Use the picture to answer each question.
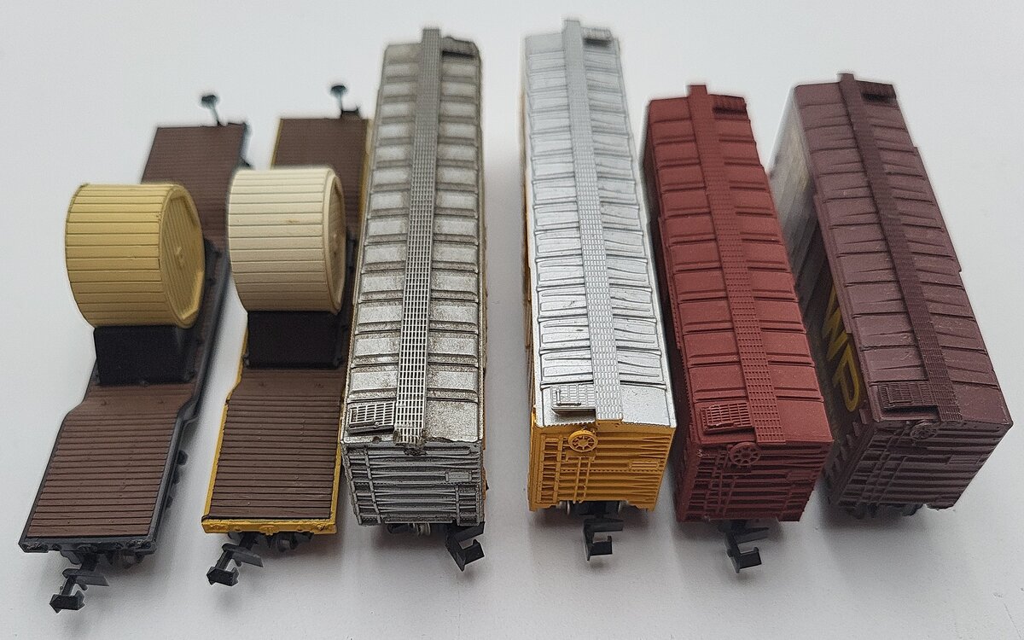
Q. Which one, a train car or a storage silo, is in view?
train car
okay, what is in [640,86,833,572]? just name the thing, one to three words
rail car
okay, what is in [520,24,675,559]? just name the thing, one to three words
rail car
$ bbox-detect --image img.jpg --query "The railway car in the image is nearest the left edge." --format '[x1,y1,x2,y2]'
[342,32,488,566]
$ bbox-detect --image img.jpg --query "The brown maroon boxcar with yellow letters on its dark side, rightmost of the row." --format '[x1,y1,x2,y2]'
[773,74,1012,516]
